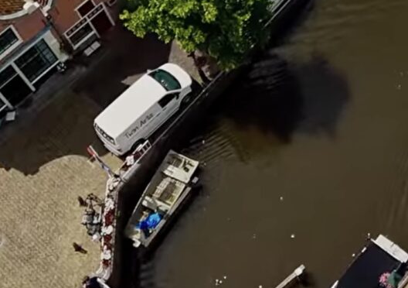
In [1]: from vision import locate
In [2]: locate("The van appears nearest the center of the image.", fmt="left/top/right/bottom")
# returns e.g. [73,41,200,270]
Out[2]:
[87,58,199,152]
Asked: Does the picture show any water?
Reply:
Yes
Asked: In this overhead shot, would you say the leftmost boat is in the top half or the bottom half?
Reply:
bottom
